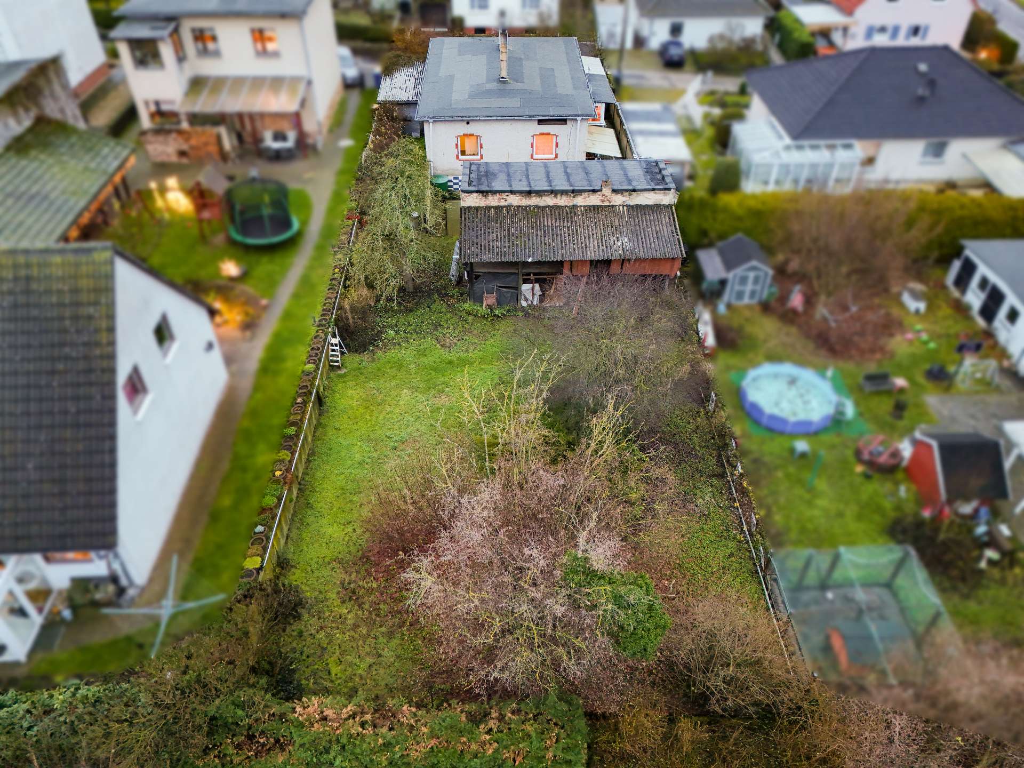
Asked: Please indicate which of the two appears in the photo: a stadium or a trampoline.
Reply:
trampoline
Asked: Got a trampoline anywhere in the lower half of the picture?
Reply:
No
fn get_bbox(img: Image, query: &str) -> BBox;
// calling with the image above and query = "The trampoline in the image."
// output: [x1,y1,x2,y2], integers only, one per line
[218,172,305,253]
